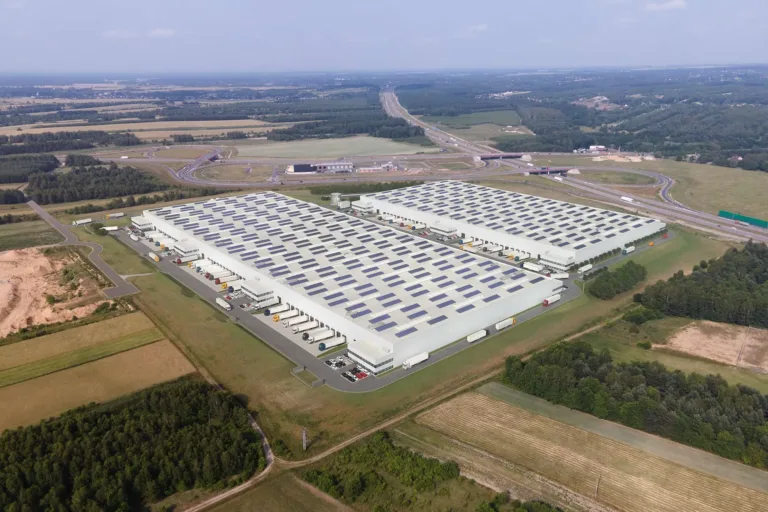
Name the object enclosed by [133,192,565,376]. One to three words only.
warehouse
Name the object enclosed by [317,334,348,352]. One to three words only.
vehicle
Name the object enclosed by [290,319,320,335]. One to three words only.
vehicle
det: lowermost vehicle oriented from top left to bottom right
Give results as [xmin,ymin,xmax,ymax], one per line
[214,296,232,312]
